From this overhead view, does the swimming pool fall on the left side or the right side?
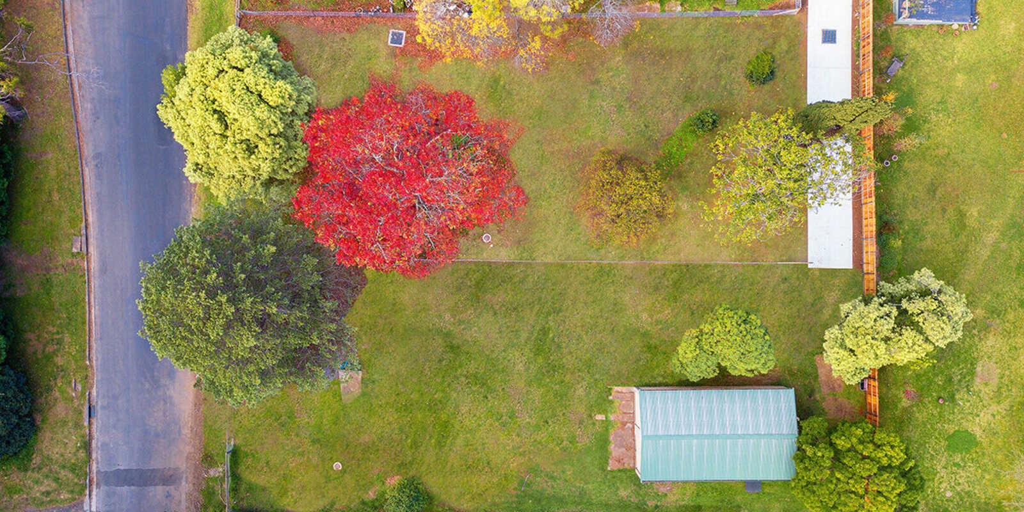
right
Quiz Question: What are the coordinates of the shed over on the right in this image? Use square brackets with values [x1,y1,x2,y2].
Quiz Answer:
[634,386,801,482]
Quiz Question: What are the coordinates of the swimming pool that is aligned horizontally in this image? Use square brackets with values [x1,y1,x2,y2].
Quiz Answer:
[894,0,979,24]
